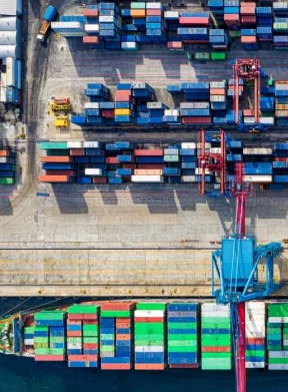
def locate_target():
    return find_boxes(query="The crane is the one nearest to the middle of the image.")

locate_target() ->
[198,130,238,199]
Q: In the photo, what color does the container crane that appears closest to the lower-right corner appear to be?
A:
blue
